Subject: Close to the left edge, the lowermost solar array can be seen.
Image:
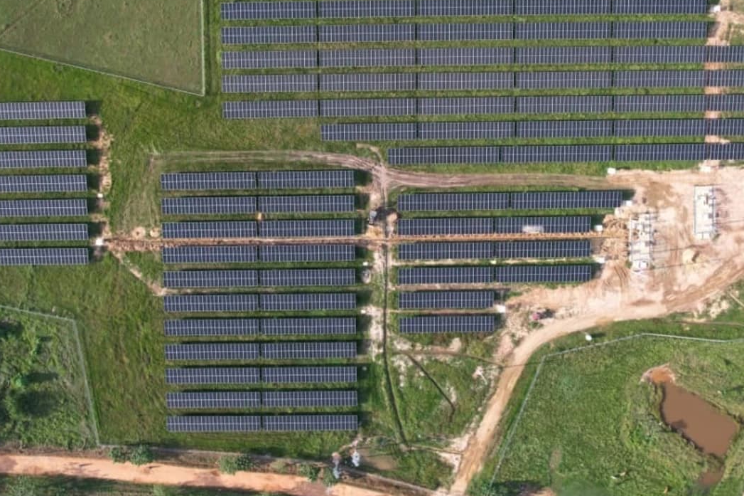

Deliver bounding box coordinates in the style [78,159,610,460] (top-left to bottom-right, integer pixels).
[0,248,89,265]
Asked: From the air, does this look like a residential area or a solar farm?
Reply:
solar farm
